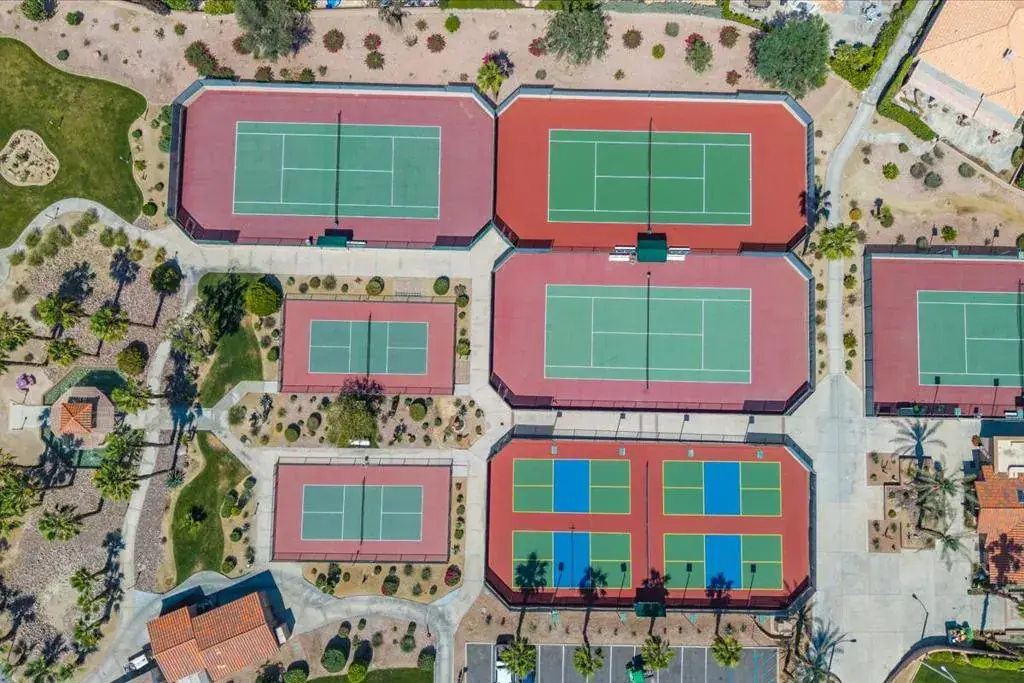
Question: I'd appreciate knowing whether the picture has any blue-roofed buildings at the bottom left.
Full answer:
No, no blue-roofed building is visible at the bottom left.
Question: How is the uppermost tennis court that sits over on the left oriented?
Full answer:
I'd say the uppermost tennis court that sits over on the left is aligned from left to right in the picture.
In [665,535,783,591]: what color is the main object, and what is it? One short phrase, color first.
green sports court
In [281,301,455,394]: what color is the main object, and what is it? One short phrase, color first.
pink sports court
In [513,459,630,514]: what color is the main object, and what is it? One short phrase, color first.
green sports court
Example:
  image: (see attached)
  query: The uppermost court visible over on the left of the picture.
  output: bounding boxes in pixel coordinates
[180,88,494,249]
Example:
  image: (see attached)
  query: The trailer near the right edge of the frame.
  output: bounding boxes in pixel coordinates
[946,620,977,644]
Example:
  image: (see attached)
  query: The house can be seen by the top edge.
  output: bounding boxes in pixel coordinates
[898,0,1024,136]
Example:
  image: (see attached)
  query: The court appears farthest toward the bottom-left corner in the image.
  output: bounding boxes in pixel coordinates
[273,465,451,562]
